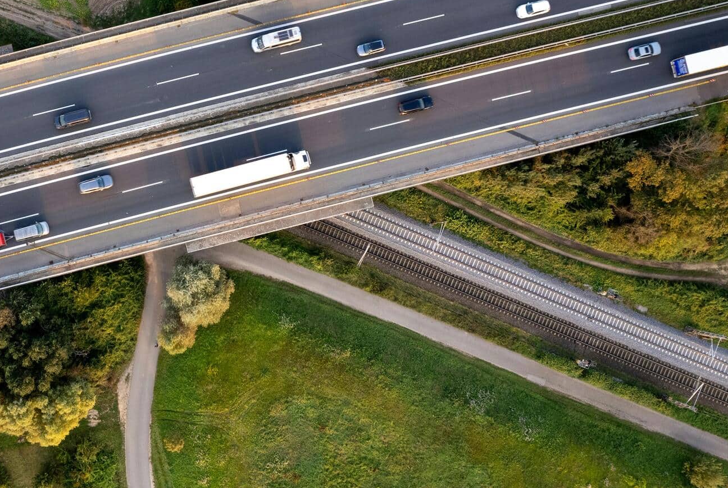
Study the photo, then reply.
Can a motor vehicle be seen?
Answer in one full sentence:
Yes, a motor vehicle is visible in the scene.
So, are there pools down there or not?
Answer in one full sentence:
No, the picture doesn't show any pool.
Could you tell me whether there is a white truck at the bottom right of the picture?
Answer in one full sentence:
No, no white truck appears at the bottom right of the picture.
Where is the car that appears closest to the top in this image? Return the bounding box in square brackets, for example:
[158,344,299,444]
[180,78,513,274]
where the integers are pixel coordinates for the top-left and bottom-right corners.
[514,1,549,20]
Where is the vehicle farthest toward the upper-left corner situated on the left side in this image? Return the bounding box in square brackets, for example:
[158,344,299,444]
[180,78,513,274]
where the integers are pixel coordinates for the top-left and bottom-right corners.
[55,109,92,129]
